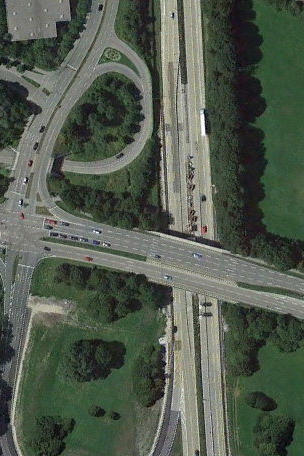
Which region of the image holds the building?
top left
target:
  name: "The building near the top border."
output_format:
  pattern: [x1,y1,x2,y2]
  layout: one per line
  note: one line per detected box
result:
[8,0,70,40]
